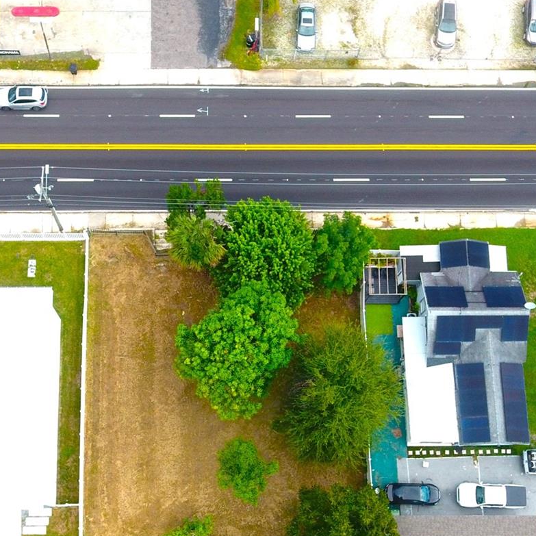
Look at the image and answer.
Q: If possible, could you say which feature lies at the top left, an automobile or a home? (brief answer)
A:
automobile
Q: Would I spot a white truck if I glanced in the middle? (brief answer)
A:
No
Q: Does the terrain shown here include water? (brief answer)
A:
No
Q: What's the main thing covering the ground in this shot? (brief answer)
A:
paved ground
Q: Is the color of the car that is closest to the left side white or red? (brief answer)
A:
white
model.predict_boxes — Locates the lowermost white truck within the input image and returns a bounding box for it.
[456,480,531,511]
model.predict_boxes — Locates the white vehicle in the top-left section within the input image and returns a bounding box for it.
[0,82,48,112]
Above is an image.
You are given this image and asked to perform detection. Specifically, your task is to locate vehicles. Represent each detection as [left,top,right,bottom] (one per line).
[0,82,48,112]
[294,2,320,53]
[456,480,531,511]
[247,34,259,53]
[521,0,536,47]
[386,479,441,508]
[521,448,536,475]
[432,0,461,51]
